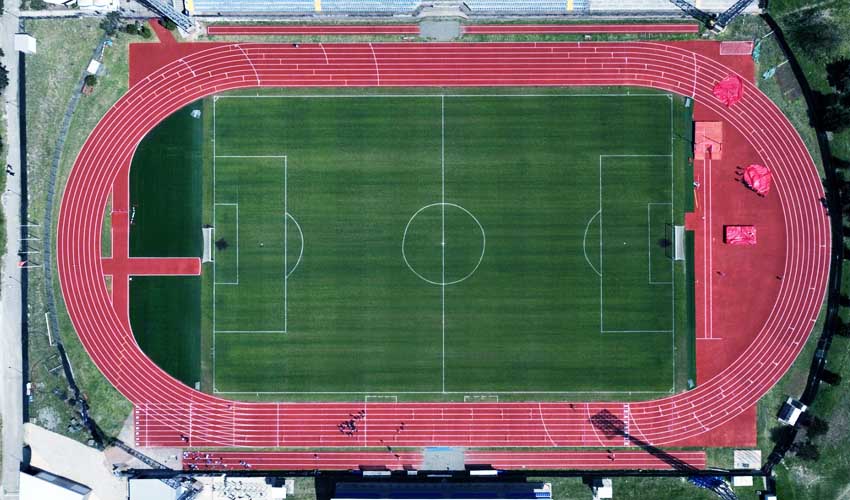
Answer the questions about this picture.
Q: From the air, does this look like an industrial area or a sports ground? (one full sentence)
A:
What you see here is a sports ground.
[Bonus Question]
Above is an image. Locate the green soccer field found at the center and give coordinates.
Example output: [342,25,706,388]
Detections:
[203,86,687,403]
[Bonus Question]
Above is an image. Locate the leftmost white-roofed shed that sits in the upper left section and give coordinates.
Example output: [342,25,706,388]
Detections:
[15,33,36,55]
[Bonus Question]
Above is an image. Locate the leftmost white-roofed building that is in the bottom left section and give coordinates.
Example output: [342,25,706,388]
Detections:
[11,467,92,500]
